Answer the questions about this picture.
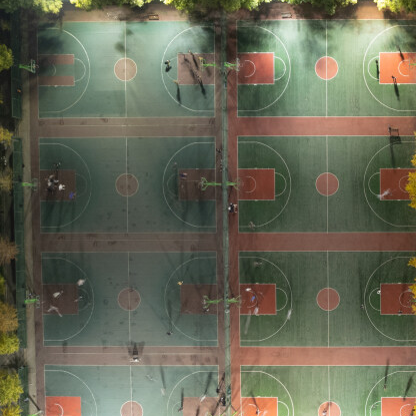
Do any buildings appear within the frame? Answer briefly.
No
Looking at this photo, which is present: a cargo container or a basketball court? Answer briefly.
basketball court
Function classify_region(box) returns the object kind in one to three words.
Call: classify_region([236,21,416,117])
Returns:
basketball court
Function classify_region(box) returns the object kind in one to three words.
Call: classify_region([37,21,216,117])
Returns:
basketball court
